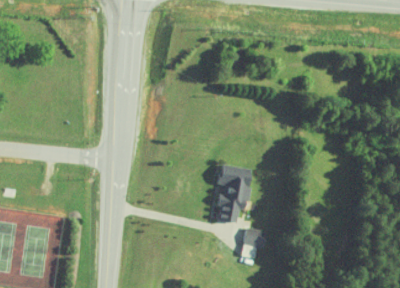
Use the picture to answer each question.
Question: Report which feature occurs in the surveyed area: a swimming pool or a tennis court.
tennis court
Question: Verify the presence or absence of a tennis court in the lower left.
Yes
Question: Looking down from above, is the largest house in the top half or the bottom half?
bottom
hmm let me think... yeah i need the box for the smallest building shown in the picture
[240,228,260,259]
